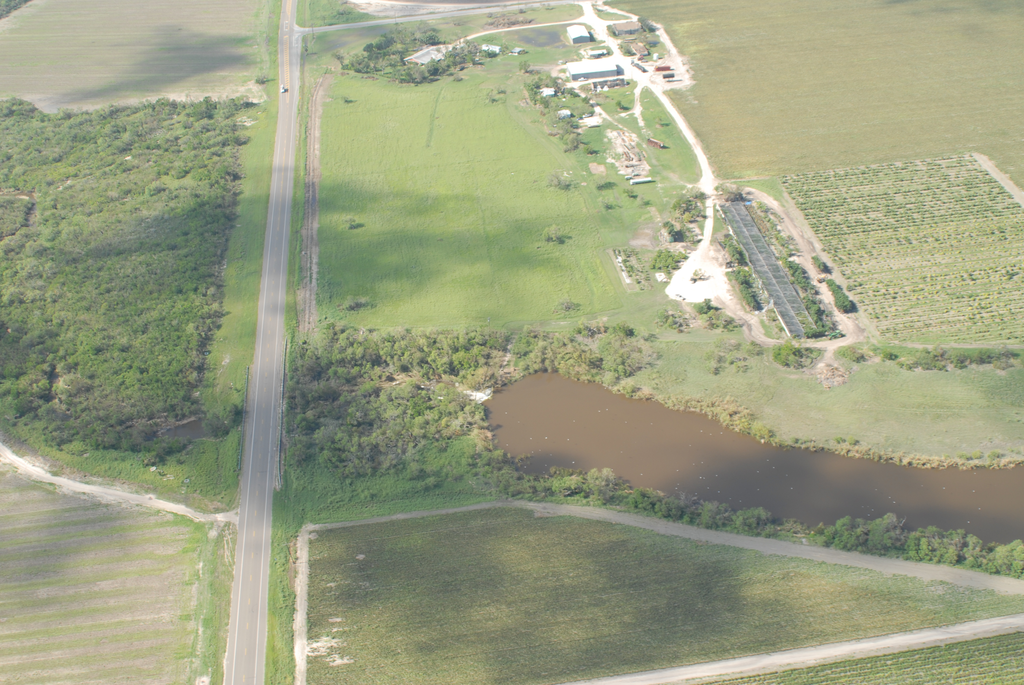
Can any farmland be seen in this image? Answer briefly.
Yes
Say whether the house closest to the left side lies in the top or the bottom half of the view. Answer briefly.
top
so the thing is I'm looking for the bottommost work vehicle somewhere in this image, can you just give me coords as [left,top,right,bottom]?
[825,328,842,340]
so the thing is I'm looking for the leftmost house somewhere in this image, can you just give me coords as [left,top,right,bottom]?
[404,40,463,67]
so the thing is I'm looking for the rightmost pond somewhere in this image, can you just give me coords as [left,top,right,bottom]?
[486,372,1024,553]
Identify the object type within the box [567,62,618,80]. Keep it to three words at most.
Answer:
shed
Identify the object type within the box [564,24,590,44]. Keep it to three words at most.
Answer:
barn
